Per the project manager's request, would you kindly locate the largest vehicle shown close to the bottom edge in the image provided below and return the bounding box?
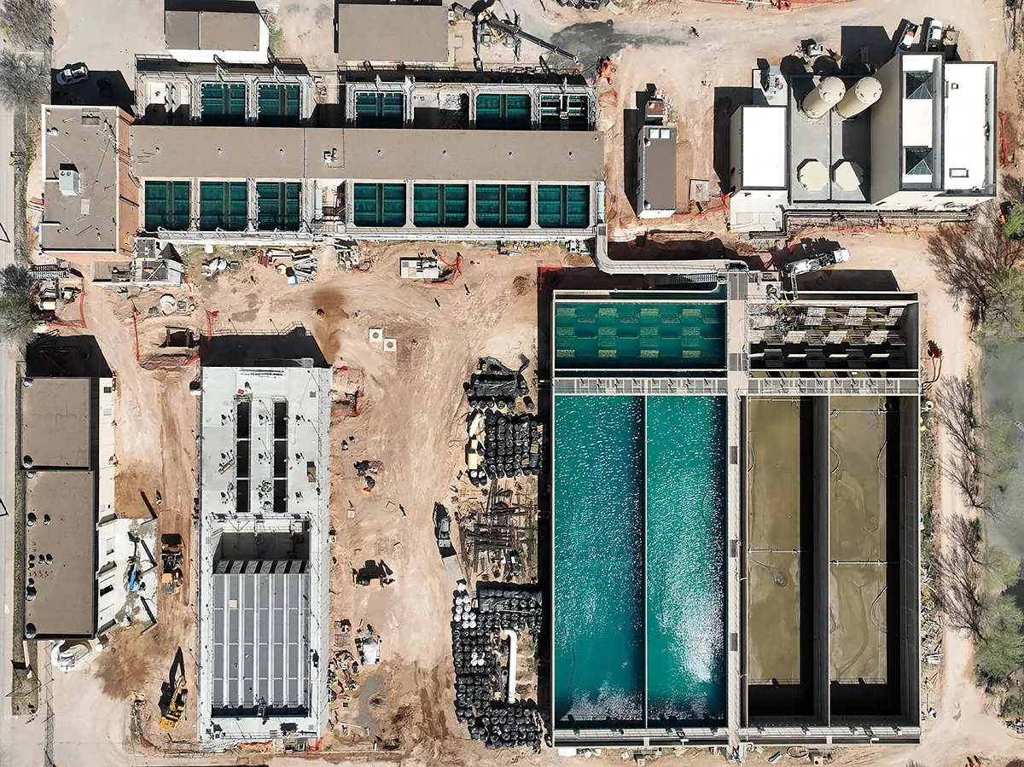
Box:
[154,684,184,732]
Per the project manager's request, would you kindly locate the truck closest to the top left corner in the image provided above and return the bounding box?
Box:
[51,60,89,83]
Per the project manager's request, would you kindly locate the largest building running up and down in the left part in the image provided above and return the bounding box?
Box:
[189,359,331,743]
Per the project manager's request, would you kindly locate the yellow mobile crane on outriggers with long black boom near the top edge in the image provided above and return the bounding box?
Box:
[476,0,576,66]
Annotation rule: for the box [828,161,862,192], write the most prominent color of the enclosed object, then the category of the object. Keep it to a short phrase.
white storage tank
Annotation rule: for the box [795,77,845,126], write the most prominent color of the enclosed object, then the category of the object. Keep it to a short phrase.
white silo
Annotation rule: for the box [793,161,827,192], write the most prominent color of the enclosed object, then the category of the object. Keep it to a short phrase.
white storage tank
